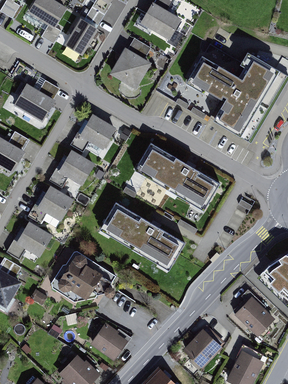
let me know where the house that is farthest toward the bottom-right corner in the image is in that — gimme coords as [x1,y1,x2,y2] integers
[227,350,263,384]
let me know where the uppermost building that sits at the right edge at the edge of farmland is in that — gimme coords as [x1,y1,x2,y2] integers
[189,52,276,136]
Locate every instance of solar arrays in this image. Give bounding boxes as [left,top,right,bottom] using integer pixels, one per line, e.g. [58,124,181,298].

[195,350,212,367]
[206,340,221,356]
[15,98,46,120]
[75,26,94,53]
[30,5,58,26]
[0,154,15,170]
